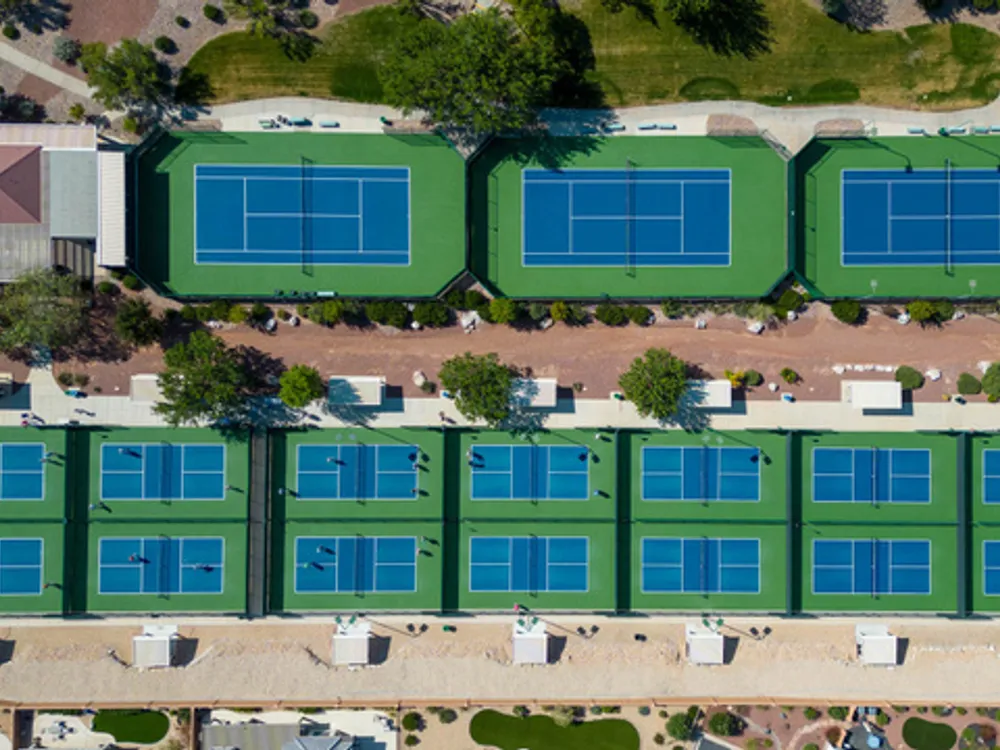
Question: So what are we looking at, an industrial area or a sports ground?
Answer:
sports ground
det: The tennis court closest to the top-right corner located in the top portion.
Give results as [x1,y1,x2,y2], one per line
[794,138,1000,299]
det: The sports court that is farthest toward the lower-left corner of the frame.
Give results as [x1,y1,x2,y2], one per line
[0,522,65,611]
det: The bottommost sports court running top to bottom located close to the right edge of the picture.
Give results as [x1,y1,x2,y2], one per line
[966,526,1000,612]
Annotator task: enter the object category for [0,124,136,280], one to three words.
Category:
building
